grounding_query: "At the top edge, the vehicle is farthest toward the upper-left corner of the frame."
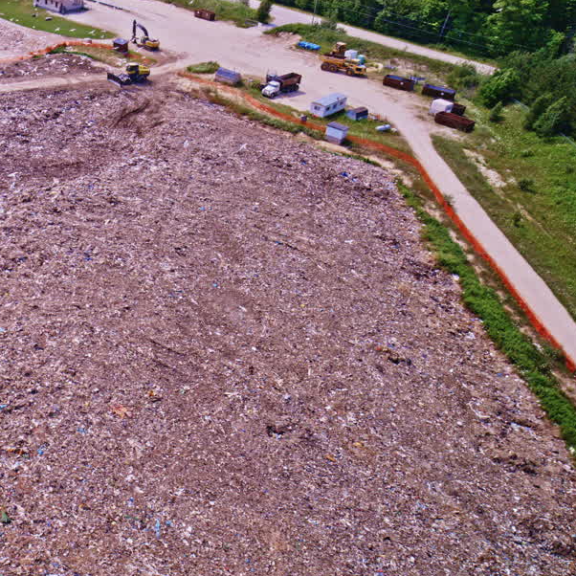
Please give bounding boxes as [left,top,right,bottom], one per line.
[135,14,167,55]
